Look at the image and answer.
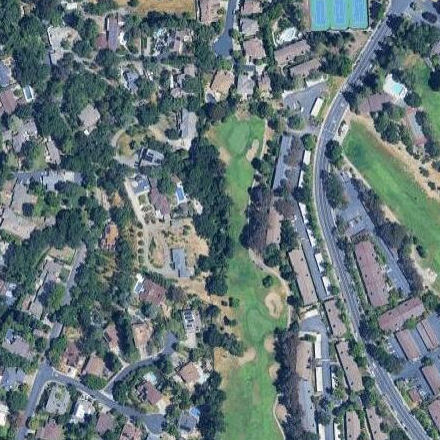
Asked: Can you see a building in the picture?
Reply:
Yes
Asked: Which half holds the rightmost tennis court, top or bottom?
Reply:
top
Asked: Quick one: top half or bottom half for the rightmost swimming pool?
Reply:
top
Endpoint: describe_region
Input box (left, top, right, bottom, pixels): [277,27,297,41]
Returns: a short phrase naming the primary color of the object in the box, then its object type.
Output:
white swimming pool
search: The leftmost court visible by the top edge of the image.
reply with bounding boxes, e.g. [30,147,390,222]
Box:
[310,0,329,31]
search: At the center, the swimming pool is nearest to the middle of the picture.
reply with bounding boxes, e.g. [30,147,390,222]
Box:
[175,180,187,204]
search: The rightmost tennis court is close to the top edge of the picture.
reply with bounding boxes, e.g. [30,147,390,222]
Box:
[348,0,368,28]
